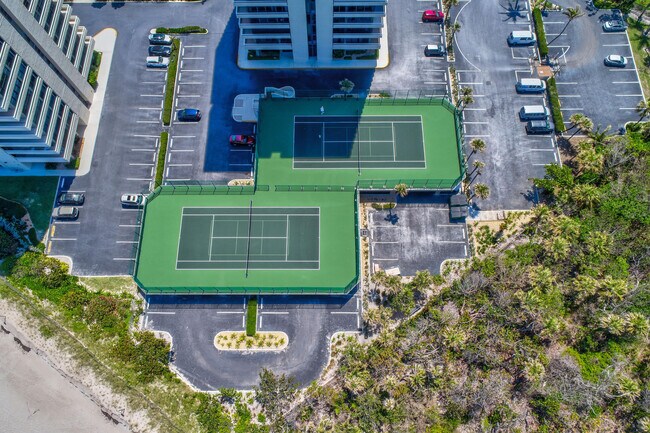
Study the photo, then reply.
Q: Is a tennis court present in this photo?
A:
Yes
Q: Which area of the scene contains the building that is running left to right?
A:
top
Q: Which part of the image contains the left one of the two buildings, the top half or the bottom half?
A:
top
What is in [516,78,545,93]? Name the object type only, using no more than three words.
vehicle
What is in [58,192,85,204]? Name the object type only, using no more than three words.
vehicle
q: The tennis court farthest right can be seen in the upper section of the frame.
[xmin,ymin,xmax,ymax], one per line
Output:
[252,98,465,189]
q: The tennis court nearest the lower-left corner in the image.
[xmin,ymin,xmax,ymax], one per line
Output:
[133,187,359,293]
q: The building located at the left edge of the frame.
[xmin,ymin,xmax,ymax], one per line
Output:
[0,0,97,170]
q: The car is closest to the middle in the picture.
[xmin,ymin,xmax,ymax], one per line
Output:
[229,135,253,147]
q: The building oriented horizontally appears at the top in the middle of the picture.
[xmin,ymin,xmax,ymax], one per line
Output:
[233,0,387,63]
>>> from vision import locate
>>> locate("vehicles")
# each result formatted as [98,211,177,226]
[601,20,627,31]
[147,32,171,44]
[146,43,171,55]
[229,135,253,147]
[175,109,199,120]
[607,55,631,67]
[422,43,444,55]
[516,78,545,93]
[118,193,147,206]
[143,54,169,67]
[521,105,550,120]
[526,121,554,134]
[419,8,441,20]
[508,30,536,44]
[53,205,81,218]
[58,192,85,204]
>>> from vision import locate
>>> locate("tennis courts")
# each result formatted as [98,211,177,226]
[133,187,359,293]
[252,98,465,189]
